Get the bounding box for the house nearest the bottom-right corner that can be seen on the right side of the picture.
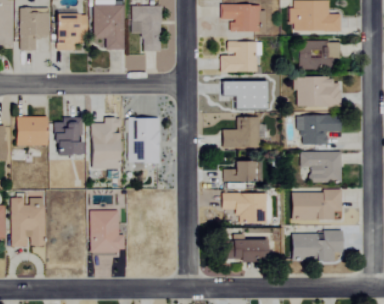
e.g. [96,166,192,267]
[292,230,344,262]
